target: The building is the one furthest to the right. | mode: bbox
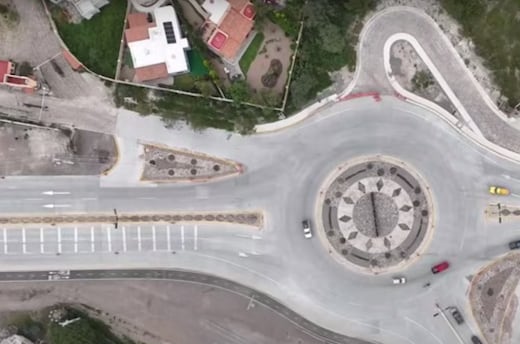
[202,0,259,81]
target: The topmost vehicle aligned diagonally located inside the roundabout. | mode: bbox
[429,260,450,275]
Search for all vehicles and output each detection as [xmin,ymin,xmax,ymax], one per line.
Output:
[508,239,520,249]
[391,278,407,285]
[302,220,312,239]
[429,260,450,275]
[471,334,483,344]
[451,308,464,325]
[488,186,509,195]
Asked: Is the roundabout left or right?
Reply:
right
